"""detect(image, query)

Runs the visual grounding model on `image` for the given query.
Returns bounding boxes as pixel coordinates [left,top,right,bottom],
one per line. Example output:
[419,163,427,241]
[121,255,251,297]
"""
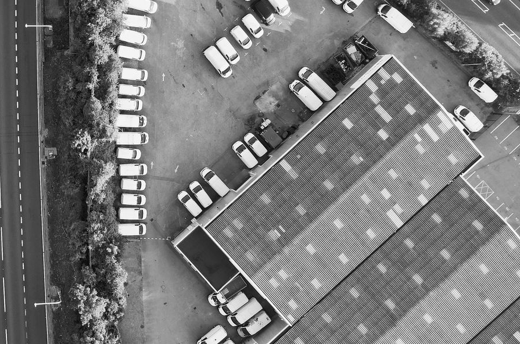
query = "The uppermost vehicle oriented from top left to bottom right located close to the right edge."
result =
[467,78,497,104]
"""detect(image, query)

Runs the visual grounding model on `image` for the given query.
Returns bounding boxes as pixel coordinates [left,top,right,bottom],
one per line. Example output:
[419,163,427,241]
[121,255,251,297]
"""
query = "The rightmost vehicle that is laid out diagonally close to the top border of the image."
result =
[376,6,412,33]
